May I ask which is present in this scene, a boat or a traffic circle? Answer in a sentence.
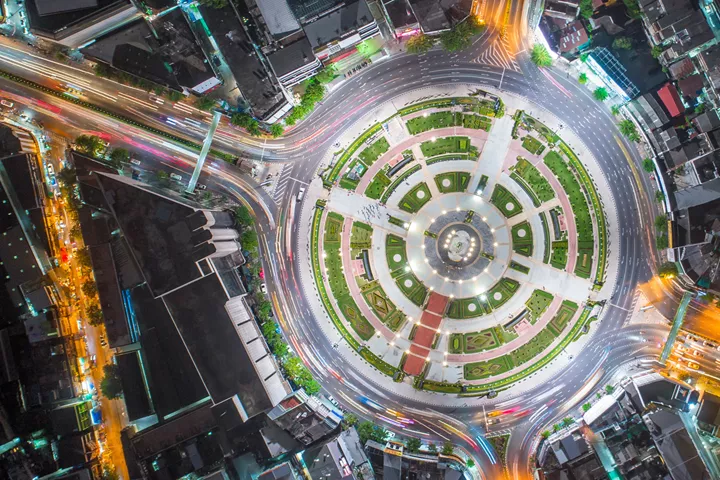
I can see a traffic circle in this picture.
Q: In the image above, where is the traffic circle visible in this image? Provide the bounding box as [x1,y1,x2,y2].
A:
[297,84,621,407]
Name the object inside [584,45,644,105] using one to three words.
building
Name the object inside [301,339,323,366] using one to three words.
bus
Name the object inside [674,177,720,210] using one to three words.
building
